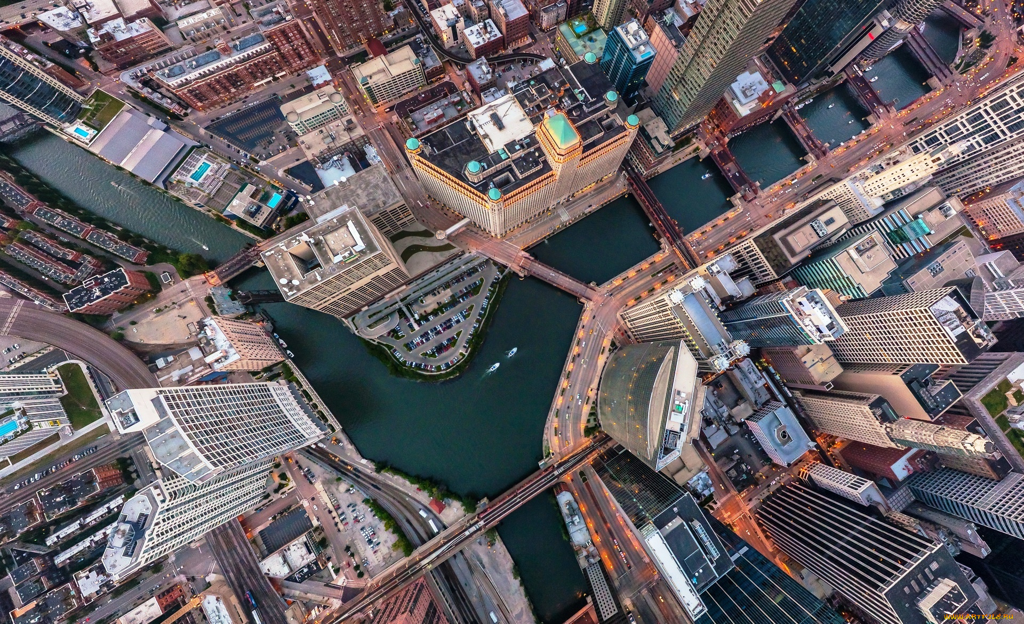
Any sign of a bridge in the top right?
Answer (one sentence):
Yes, a bridge shows up in the top right.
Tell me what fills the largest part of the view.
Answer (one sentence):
The scene is dominated by buildings.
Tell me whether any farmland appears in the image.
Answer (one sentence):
No, farmland can't be seen anywhere here.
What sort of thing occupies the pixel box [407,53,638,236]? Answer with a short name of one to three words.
building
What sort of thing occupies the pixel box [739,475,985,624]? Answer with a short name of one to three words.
building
